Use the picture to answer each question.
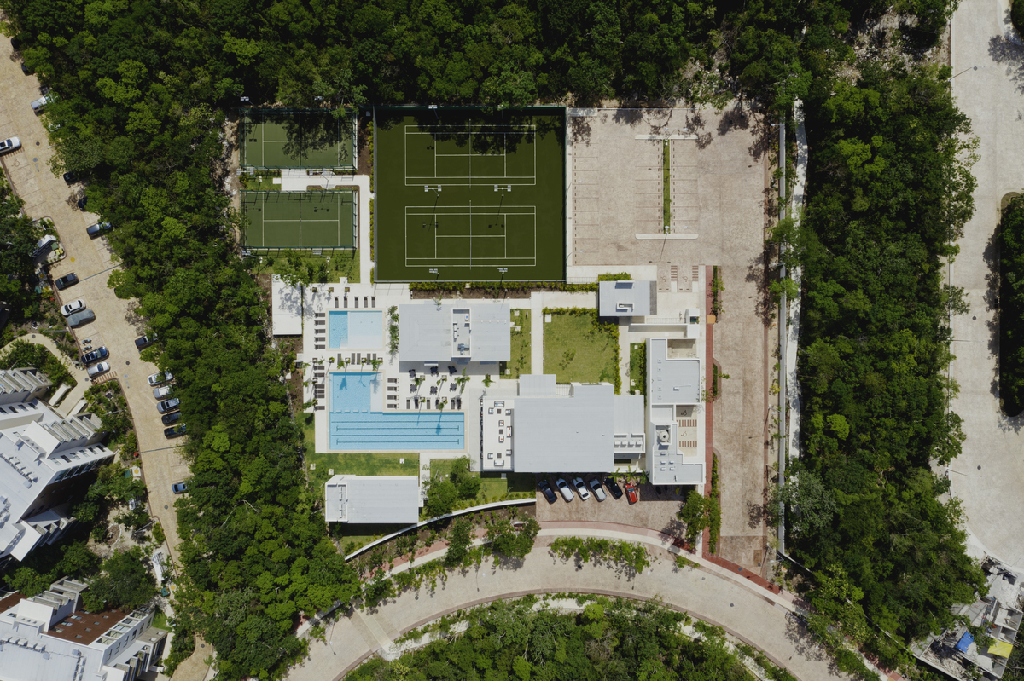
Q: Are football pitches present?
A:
No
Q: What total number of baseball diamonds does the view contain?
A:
zero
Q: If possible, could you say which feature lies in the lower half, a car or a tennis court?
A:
car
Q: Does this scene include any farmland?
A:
No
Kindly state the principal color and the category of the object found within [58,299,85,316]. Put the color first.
white car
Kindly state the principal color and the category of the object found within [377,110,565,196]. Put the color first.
green tennis court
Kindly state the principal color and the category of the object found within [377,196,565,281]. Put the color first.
green tennis court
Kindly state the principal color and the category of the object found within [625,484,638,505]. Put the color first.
red vehicle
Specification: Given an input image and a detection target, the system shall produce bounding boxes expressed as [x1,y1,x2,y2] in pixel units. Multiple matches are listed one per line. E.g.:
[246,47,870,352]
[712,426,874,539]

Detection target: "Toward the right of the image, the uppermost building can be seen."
[599,281,657,316]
